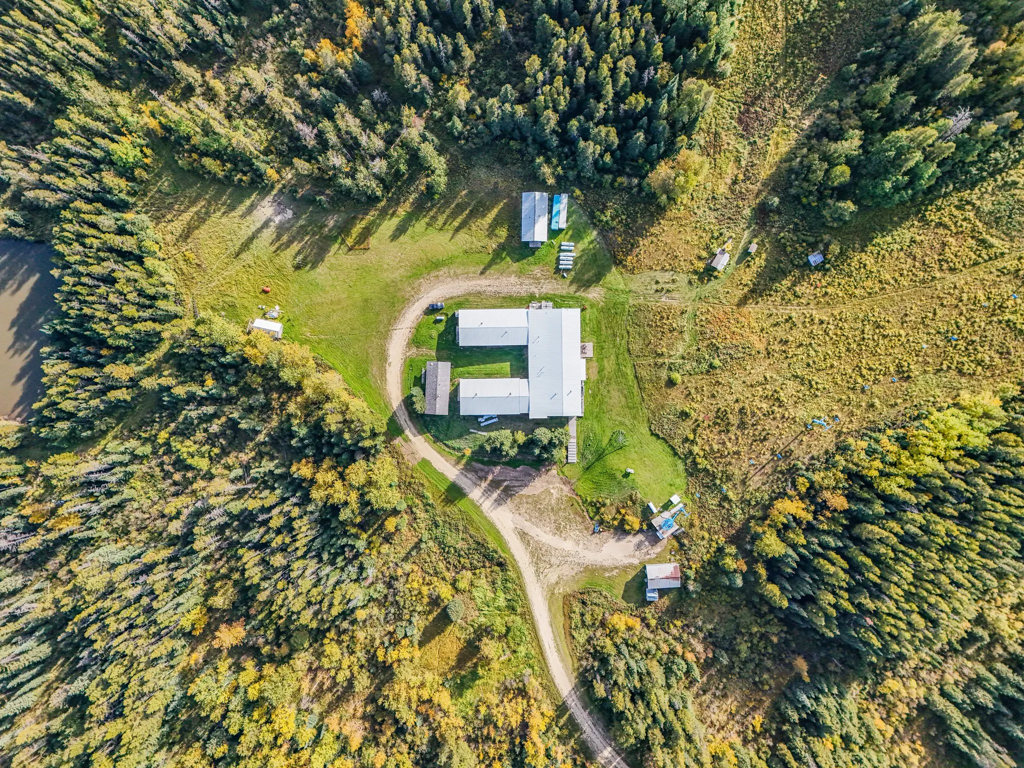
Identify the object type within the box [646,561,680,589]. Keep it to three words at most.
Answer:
building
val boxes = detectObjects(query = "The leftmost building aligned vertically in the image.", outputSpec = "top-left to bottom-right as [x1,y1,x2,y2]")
[424,361,451,415]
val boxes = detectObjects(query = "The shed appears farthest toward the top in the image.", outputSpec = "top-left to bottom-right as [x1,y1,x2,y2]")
[521,192,548,242]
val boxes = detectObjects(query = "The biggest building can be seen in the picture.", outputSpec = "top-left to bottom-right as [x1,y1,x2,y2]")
[459,308,586,419]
